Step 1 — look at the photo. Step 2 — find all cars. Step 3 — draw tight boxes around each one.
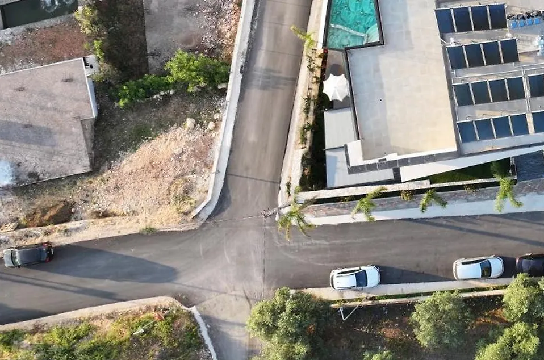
[330,263,381,291]
[516,251,544,275]
[4,242,55,269]
[454,255,504,281]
